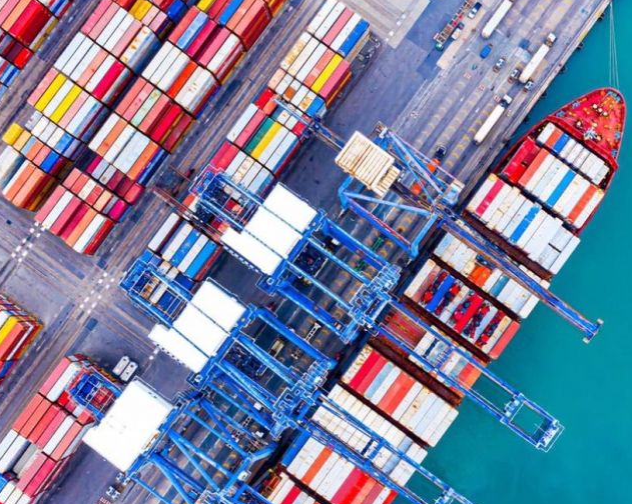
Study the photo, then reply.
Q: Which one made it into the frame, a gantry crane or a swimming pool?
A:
gantry crane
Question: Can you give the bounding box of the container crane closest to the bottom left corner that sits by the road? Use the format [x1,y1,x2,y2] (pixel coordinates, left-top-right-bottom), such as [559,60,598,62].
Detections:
[59,358,287,504]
